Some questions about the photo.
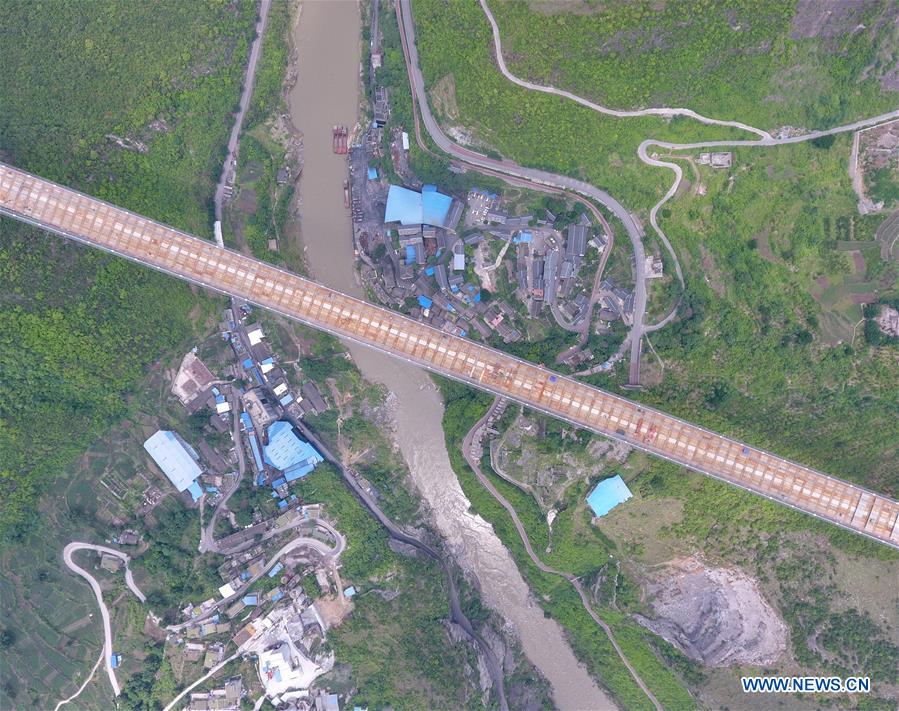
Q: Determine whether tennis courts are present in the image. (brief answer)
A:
No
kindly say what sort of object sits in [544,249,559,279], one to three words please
building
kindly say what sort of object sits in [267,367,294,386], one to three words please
house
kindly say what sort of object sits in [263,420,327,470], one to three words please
building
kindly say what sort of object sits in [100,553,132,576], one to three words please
house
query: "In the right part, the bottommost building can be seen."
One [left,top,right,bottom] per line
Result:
[583,473,633,518]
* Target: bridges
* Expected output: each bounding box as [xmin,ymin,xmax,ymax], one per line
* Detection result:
[0,164,899,552]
